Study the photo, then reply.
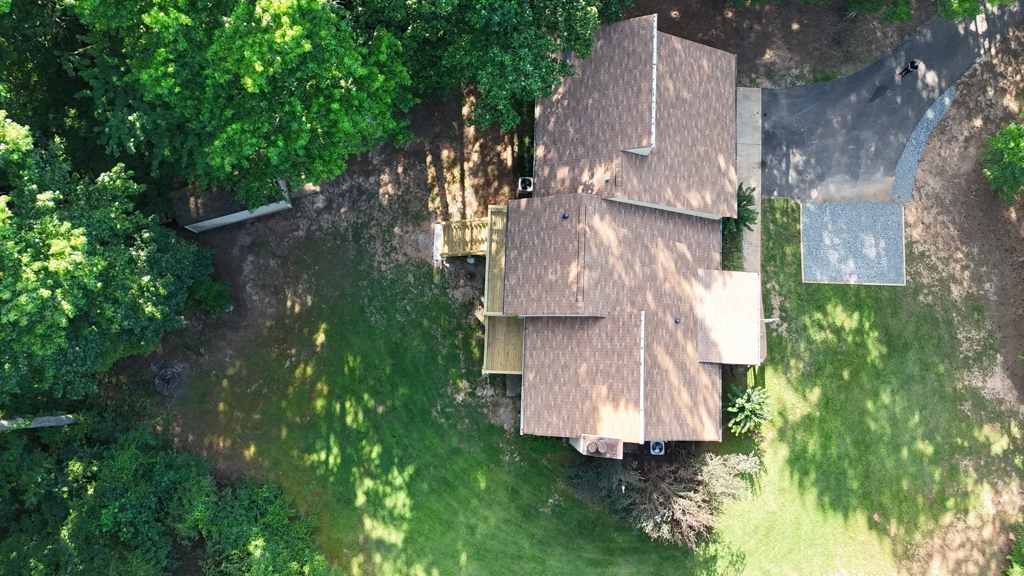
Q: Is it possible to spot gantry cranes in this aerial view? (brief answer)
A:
No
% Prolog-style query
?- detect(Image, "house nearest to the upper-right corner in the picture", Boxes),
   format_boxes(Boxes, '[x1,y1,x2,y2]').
[501,16,761,458]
